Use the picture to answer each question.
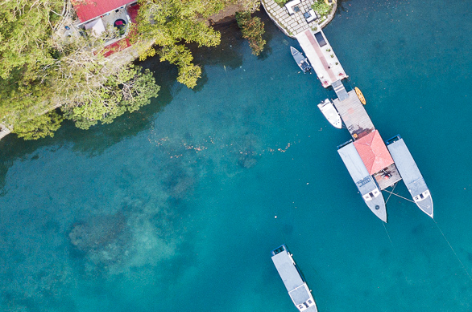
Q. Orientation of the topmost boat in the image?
at an angle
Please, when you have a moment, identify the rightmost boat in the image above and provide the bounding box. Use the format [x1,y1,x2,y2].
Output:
[385,134,434,219]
